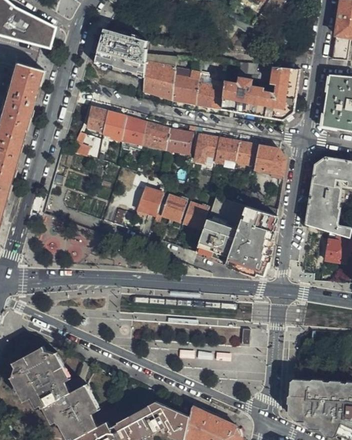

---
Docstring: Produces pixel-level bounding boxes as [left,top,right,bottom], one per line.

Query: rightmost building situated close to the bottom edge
[285,382,352,440]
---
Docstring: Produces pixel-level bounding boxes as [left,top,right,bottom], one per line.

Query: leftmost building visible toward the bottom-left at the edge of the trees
[8,348,72,408]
